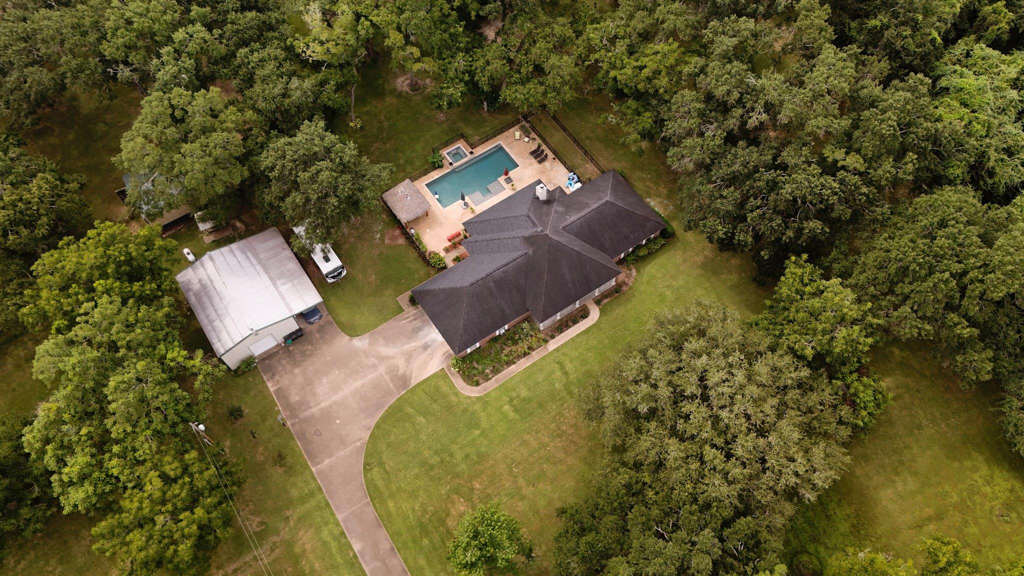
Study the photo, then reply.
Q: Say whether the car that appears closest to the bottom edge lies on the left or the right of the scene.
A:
left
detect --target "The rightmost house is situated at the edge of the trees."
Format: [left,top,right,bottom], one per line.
[411,169,667,358]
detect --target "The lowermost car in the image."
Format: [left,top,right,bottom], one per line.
[300,305,323,325]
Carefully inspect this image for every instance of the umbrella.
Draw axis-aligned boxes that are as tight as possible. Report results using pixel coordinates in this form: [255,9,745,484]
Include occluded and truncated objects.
[460,194,469,209]
[503,168,512,183]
